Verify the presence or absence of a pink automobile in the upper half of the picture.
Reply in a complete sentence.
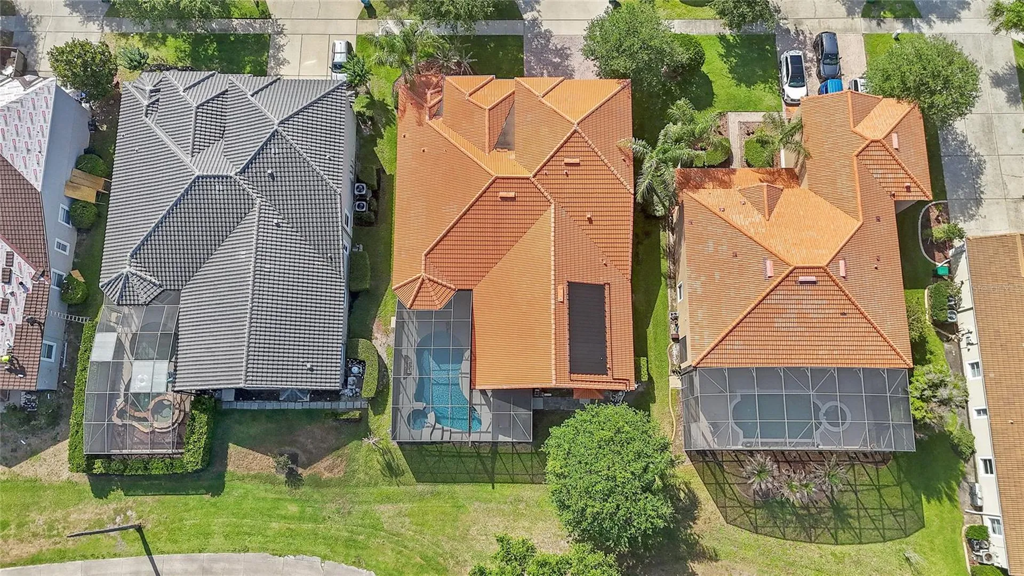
No, I see no pink automobile in the upper half of the picture.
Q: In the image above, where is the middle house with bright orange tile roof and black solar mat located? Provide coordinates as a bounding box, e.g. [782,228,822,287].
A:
[391,74,635,397]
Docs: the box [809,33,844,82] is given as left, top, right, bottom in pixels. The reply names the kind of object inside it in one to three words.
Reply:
car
